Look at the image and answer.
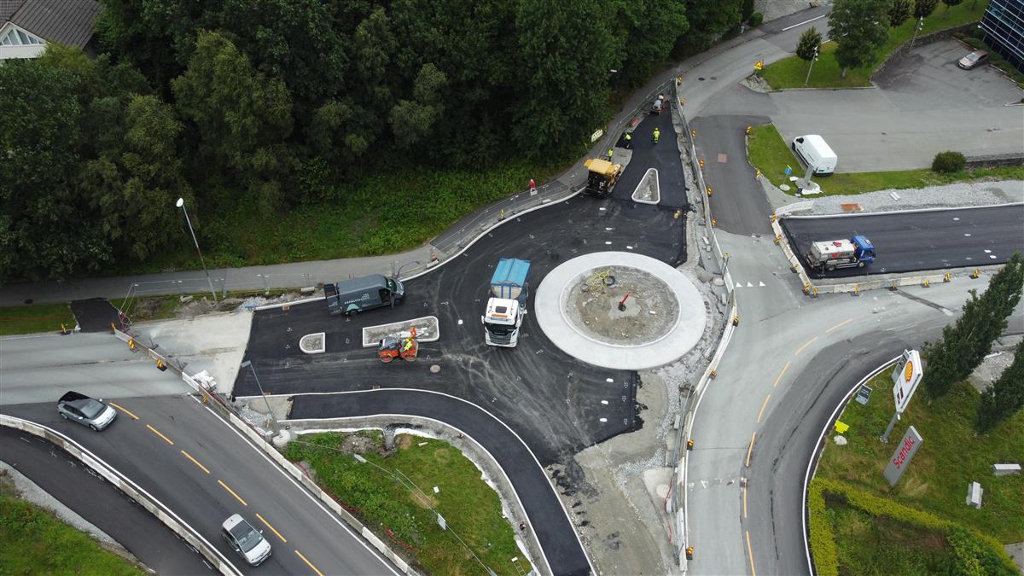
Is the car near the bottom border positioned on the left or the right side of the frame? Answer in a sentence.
You can find the car near the bottom border on the left side of the picture.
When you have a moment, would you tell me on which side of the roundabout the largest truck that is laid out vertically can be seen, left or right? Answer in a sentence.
From the viewer's perspective, the largest truck that is laid out vertically falls to the left of the roundabout.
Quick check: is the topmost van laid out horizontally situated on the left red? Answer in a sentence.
No, from above the topmost van laid out horizontally situated on the left looks gray.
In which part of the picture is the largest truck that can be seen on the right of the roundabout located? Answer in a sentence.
The largest truck that can be seen on the right of the roundabout is located in the right region of the scene.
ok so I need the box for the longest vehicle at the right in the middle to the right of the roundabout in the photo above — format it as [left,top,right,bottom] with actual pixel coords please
[804,227,881,270]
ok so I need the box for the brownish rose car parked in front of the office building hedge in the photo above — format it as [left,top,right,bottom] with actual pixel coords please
[954,49,991,68]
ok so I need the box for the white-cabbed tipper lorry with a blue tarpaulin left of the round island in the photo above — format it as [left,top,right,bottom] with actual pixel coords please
[481,257,530,349]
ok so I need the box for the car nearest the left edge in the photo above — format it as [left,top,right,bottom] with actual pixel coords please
[53,391,115,432]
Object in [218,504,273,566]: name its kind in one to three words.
car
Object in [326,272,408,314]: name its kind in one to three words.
van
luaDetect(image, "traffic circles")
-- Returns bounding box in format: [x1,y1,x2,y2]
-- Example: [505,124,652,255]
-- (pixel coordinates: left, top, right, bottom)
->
[535,251,707,371]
